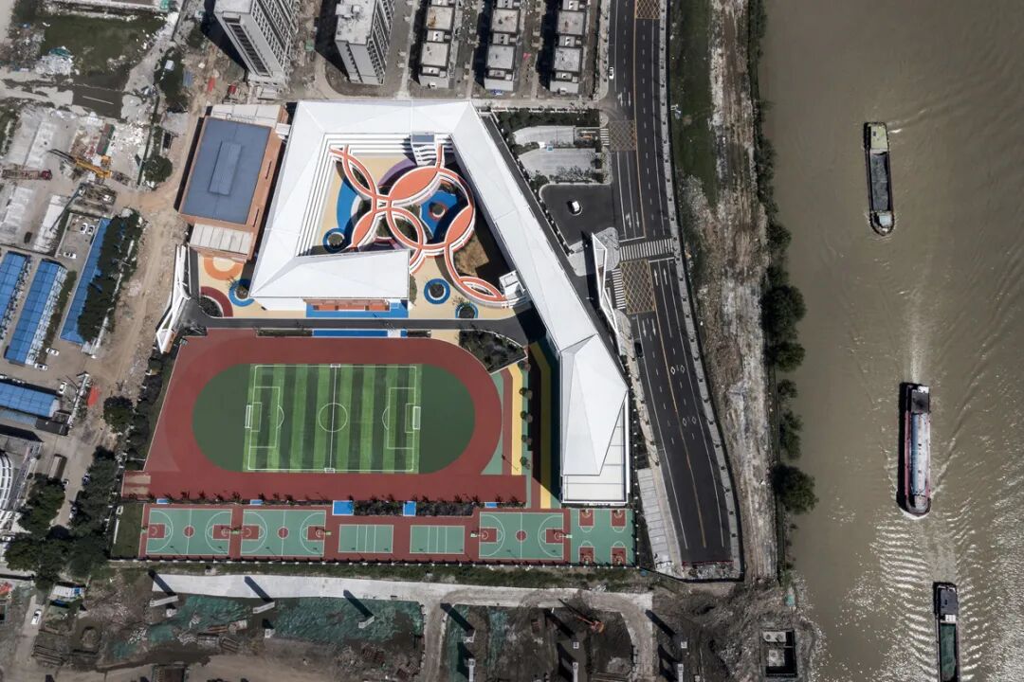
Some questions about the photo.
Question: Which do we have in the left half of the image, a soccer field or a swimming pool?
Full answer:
Looking in the left half of the image, you will find a soccer field.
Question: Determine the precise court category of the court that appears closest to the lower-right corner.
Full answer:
From above, the court that appears closest to the lower-right corner can be identified as a basketball court.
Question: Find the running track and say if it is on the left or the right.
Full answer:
The running track sits on the left side.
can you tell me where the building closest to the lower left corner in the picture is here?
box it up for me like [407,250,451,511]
[51,584,90,599]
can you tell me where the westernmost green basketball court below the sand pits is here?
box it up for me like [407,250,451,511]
[146,509,231,556]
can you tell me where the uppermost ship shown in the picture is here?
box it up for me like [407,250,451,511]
[862,117,895,236]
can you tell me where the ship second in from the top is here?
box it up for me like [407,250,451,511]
[902,383,933,517]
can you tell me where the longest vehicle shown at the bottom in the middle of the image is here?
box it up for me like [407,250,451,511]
[553,593,607,636]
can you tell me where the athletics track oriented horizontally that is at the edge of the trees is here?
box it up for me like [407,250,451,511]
[124,329,526,503]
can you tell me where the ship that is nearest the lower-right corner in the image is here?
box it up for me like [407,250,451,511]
[931,583,962,682]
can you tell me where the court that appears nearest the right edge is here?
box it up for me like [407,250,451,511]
[571,509,634,565]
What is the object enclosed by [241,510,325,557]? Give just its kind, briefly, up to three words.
basketball court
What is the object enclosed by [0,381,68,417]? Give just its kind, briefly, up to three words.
shed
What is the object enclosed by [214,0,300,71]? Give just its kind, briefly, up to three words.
building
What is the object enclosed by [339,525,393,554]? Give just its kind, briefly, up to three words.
sports court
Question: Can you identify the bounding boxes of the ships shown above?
[862,117,895,236]
[902,383,933,517]
[931,583,962,682]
